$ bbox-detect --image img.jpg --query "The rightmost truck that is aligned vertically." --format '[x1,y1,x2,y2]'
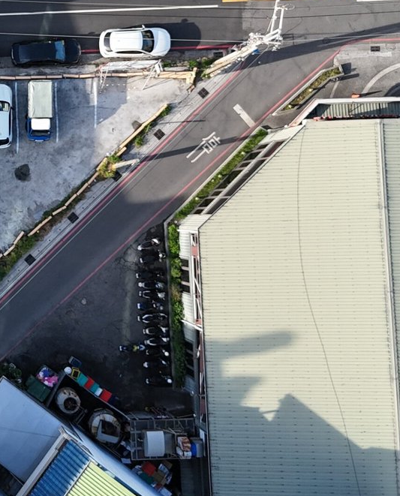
[26,79,57,143]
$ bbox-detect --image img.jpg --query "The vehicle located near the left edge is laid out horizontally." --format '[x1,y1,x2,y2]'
[12,34,81,68]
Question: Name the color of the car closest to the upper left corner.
black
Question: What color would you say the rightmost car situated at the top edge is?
white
